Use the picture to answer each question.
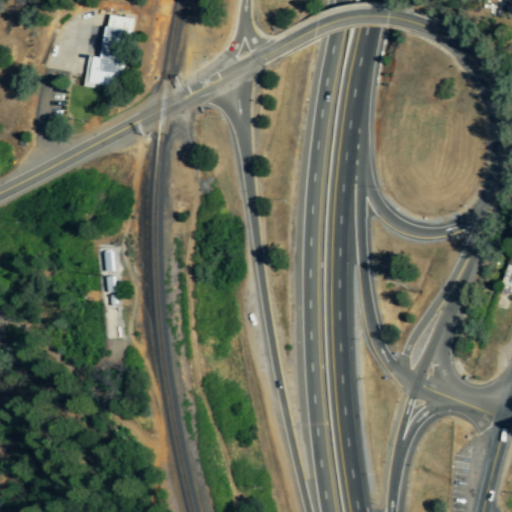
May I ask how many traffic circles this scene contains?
none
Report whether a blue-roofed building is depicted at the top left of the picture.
No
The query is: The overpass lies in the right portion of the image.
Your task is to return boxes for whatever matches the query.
[237,4,426,78]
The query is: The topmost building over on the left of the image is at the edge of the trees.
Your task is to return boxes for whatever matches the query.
[85,14,136,88]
